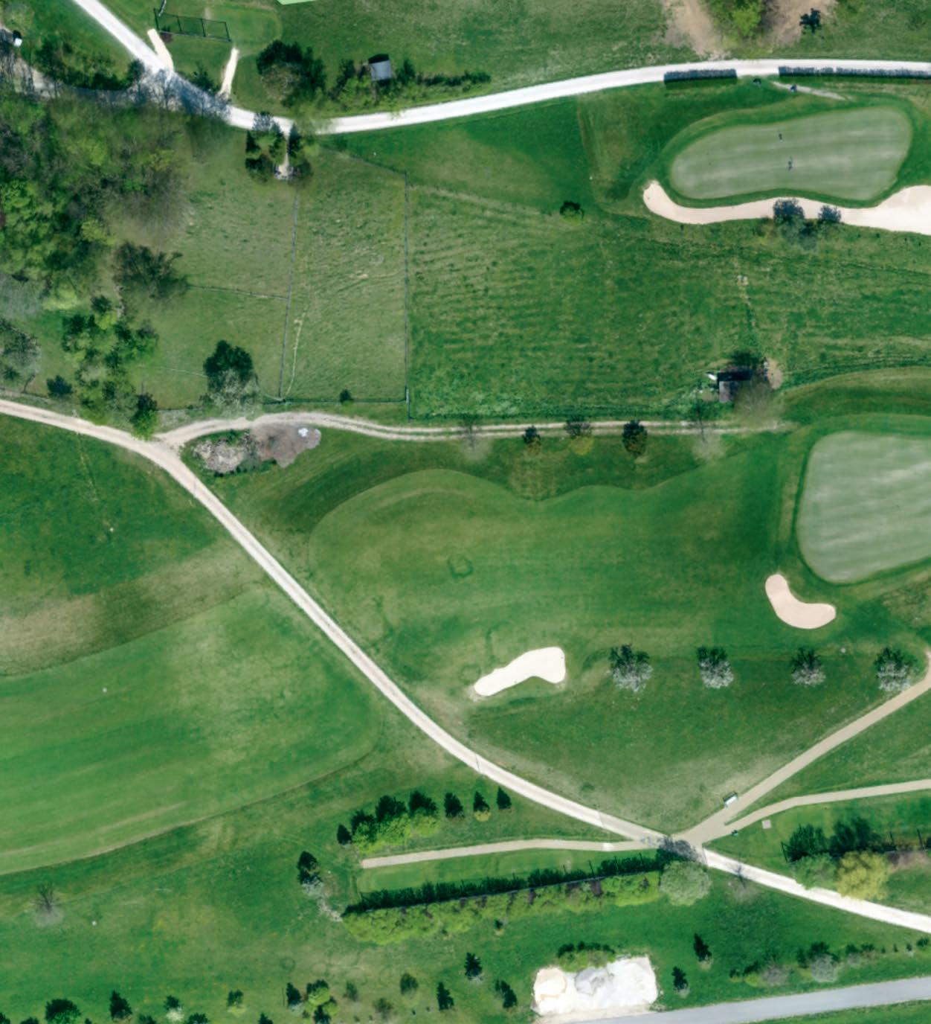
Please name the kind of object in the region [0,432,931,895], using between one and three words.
golf course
